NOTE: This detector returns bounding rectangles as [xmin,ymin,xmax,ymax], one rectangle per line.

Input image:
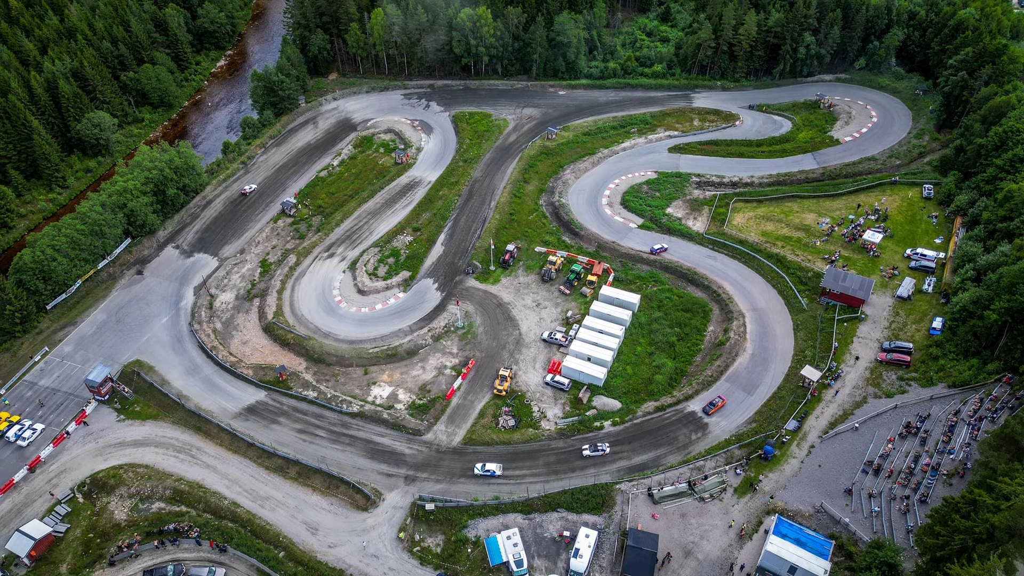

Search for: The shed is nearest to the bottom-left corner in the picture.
[6,519,58,565]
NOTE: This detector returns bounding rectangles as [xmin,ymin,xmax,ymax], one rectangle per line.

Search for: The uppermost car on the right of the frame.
[922,182,936,198]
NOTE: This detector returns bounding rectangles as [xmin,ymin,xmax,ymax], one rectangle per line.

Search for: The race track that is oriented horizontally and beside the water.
[0,82,912,500]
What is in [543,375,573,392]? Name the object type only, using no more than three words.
car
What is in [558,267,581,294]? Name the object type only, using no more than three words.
work vehicle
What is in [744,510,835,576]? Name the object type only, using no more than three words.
building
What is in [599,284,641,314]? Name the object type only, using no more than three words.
building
